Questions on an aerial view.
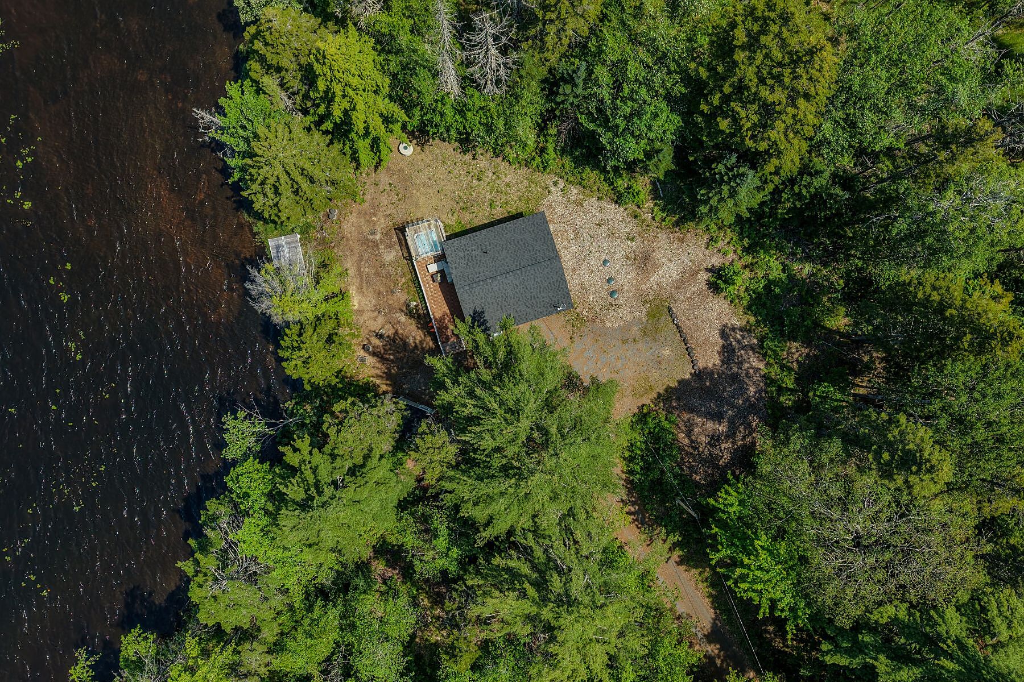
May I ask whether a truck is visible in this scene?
No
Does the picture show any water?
Yes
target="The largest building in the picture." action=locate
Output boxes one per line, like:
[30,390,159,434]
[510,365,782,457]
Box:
[442,211,573,337]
